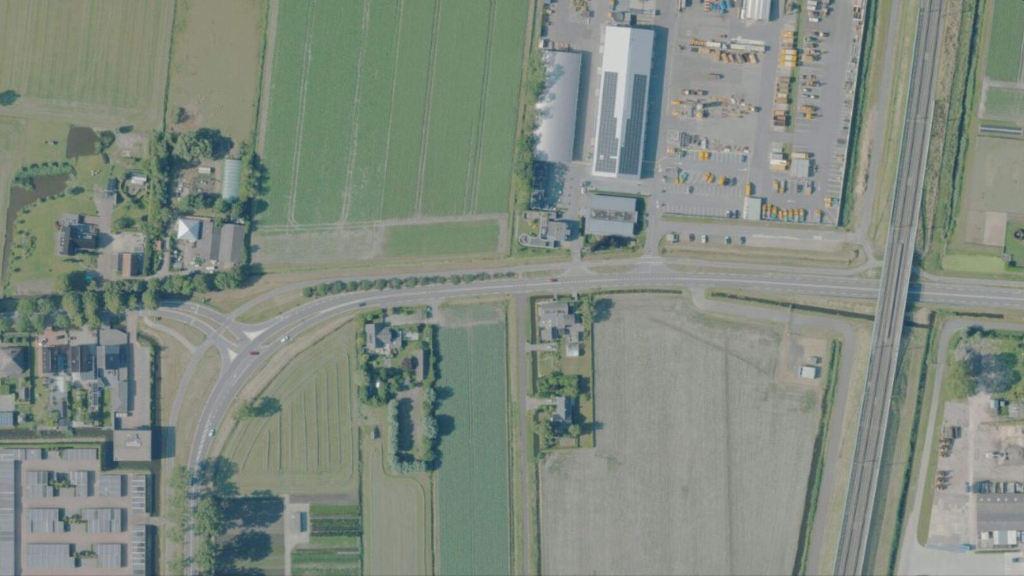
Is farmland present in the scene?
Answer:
Yes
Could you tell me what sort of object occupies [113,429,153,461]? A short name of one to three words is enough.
building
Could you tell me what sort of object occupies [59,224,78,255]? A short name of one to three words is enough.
house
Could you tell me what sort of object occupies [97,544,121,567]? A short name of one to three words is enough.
shed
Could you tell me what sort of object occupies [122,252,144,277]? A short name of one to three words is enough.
barn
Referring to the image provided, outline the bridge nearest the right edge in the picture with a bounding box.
[834,0,947,576]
